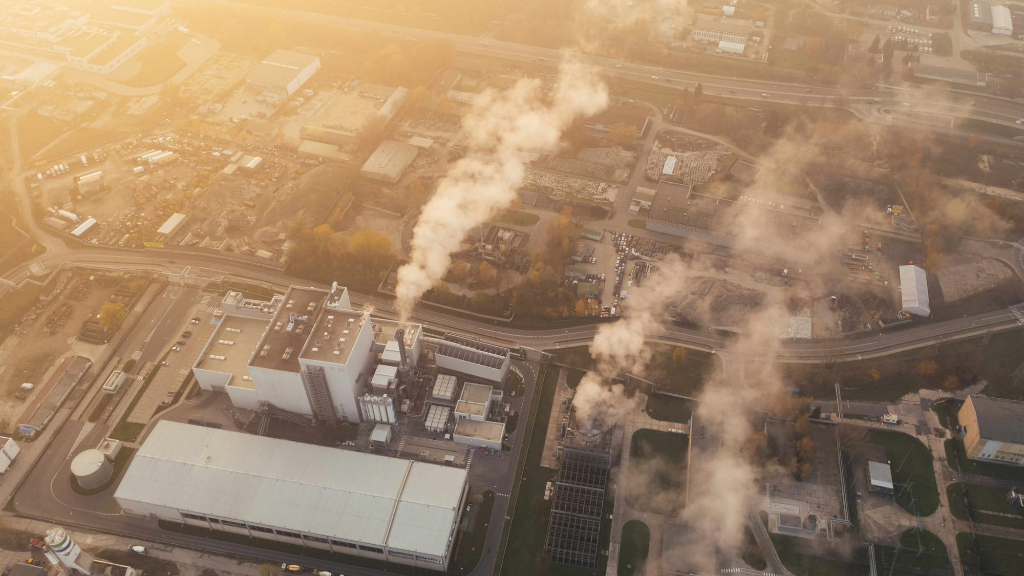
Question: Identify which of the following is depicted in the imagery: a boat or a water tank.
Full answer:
The one in the frame is a water tank.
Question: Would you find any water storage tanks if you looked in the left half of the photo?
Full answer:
Yes, in the left half of the photo there is a water storage tank.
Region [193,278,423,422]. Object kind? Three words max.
building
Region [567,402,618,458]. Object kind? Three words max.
cooling tower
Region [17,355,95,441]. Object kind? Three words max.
barn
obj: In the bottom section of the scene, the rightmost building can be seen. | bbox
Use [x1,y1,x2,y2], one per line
[959,394,1024,465]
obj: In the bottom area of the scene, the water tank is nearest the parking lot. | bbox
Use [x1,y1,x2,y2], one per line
[71,448,114,489]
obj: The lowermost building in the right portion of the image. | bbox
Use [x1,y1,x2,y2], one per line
[777,513,802,532]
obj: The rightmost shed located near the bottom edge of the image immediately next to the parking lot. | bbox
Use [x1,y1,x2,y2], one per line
[113,419,474,572]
